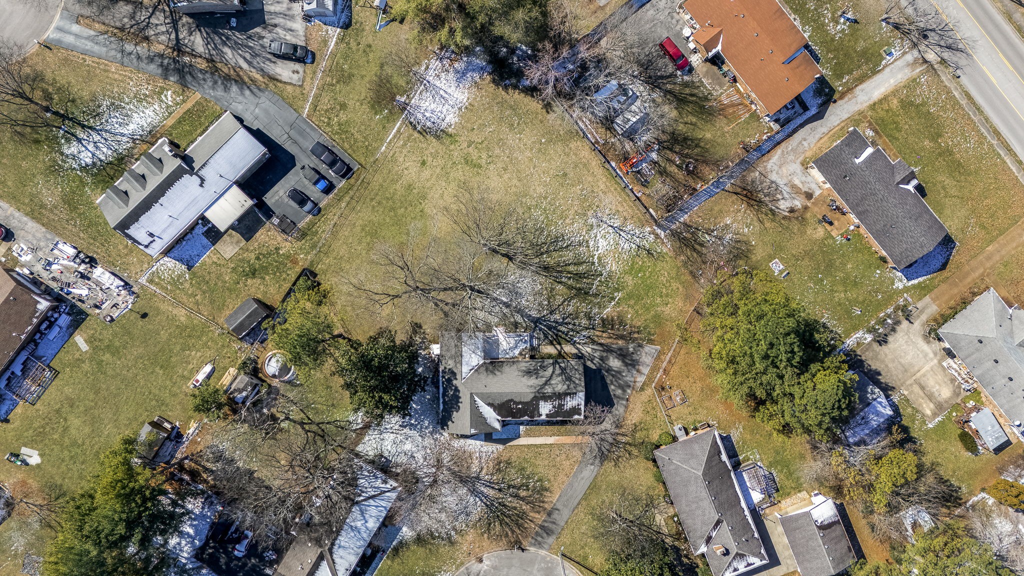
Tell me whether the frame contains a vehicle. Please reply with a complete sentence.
Yes, the photo shows a vehicle.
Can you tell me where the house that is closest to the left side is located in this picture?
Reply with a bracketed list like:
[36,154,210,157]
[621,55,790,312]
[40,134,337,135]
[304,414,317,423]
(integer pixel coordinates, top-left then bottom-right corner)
[0,268,57,379]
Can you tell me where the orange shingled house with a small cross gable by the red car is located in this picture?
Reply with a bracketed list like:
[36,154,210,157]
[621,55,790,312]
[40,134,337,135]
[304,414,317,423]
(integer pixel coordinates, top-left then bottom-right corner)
[673,0,823,115]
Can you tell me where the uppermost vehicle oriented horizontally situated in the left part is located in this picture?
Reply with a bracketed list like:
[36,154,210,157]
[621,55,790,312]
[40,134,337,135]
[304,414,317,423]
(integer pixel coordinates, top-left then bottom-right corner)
[265,40,310,61]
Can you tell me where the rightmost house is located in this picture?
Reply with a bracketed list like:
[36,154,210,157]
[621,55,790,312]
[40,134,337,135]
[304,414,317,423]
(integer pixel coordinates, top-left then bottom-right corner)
[935,287,1024,450]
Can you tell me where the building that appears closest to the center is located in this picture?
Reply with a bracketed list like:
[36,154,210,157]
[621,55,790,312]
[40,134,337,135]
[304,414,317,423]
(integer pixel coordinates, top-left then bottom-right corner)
[439,331,585,434]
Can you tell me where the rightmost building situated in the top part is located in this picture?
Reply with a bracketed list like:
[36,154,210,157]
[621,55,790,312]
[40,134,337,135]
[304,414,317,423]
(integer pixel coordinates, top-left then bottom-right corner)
[808,127,948,270]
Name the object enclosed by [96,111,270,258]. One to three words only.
house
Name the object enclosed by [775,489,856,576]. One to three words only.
building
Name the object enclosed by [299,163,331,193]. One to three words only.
car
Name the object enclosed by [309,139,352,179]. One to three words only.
truck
